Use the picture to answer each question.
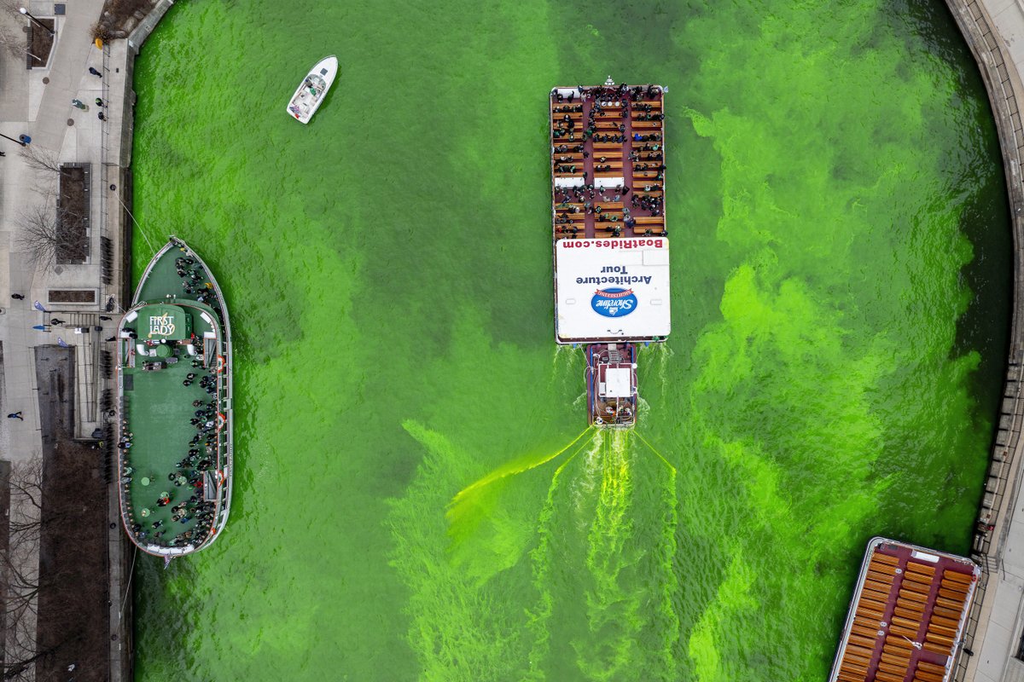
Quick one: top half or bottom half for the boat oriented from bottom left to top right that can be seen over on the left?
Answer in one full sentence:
Seen from above, the boat oriented from bottom left to top right that can be seen over on the left lies in the top half of the view.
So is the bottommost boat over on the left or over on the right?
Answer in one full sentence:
It is on the right.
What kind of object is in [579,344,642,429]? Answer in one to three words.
boat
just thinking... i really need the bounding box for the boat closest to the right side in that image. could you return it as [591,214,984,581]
[827,535,981,682]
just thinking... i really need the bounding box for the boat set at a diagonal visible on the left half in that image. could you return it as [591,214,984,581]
[287,55,339,126]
